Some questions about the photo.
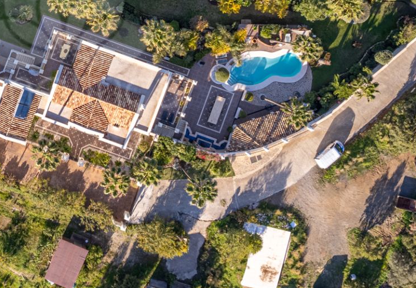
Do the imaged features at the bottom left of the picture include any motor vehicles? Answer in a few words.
No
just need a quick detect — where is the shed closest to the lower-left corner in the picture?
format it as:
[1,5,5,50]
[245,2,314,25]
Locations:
[45,233,89,288]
